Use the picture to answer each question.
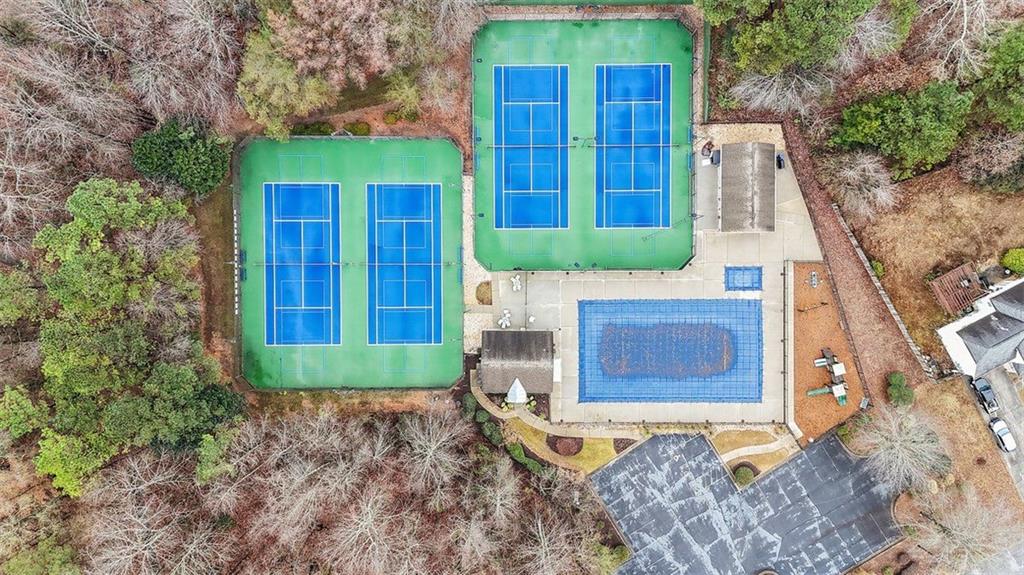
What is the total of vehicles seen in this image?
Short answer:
2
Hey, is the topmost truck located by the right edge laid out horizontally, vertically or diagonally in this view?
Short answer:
diagonally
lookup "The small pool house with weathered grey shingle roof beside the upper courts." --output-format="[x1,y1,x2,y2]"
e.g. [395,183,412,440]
[719,140,776,232]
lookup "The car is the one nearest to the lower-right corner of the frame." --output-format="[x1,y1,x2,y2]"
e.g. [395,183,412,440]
[991,419,1016,454]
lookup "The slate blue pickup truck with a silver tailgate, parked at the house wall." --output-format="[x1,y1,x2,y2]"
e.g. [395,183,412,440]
[970,378,1003,416]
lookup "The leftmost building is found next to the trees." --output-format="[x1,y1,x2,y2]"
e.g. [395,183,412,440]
[480,329,554,405]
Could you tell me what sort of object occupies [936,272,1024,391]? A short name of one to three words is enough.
house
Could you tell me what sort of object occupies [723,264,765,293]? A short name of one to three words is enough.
swimming pool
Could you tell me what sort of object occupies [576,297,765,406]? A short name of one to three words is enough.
swimming pool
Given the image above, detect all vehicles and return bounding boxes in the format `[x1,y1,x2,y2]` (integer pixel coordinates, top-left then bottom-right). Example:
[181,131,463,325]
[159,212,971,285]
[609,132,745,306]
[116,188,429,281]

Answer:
[970,378,1003,416]
[991,419,1016,454]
